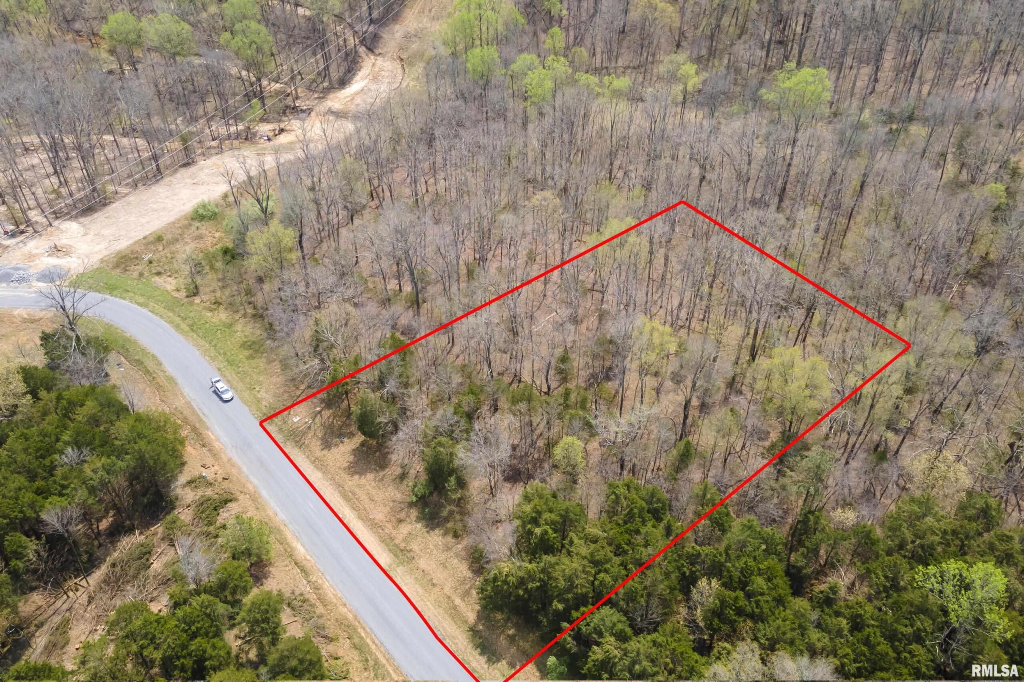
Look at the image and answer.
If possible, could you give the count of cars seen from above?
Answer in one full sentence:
In total, there is 1 car in the scene.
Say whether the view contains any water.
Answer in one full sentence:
No, no water is visible.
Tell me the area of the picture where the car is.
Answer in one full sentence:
You can find the car in the left area of the picture.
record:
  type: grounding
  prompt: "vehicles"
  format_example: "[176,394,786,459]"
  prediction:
[208,376,234,399]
